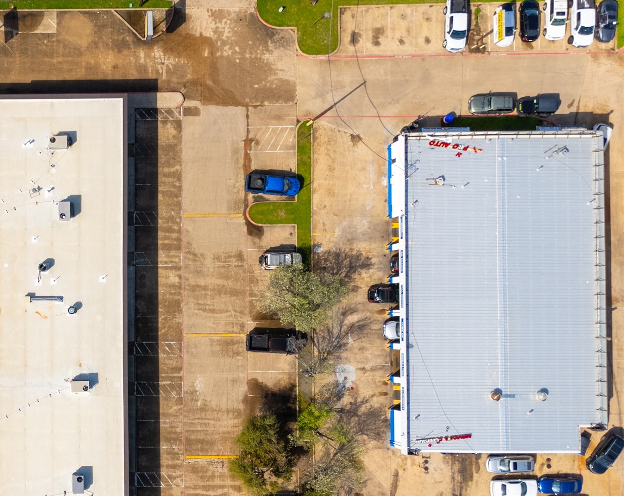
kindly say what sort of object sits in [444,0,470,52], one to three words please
truck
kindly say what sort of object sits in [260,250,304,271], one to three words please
car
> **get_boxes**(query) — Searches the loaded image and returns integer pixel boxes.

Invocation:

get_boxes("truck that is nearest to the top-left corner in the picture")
[244,173,300,197]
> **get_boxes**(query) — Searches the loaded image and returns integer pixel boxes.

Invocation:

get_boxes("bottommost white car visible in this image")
[488,477,534,496]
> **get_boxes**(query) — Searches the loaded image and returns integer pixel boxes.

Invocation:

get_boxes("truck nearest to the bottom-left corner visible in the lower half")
[246,331,303,353]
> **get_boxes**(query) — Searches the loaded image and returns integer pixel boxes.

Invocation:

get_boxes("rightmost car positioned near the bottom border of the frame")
[583,427,624,475]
